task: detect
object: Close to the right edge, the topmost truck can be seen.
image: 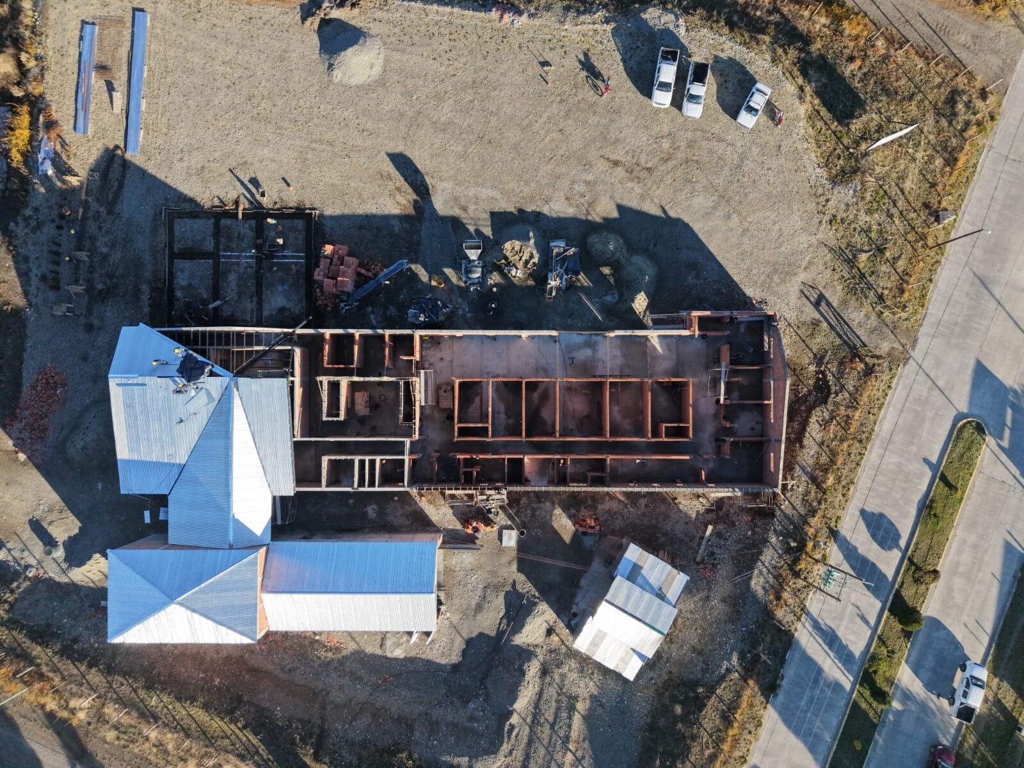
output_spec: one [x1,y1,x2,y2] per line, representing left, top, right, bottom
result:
[953,662,991,725]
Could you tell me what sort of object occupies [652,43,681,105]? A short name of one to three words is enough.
truck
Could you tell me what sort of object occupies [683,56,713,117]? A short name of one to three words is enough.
truck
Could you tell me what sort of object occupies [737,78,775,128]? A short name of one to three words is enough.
car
